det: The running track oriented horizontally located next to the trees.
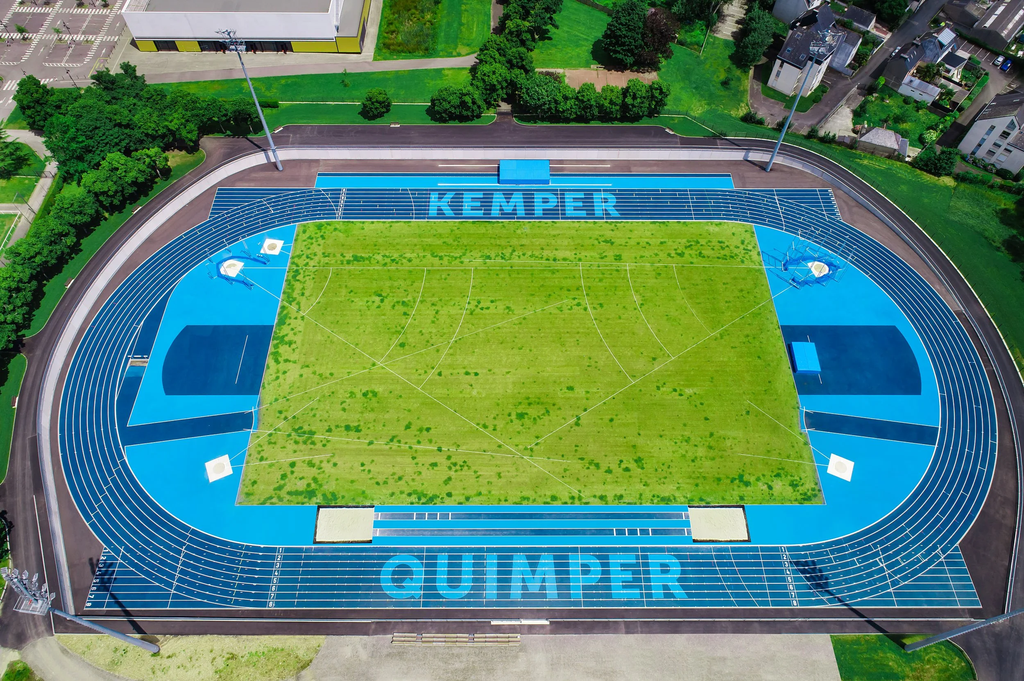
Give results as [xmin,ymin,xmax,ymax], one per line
[58,172,998,609]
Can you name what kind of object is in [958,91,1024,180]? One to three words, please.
house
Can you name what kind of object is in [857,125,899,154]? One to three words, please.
house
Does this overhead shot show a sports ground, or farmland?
sports ground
